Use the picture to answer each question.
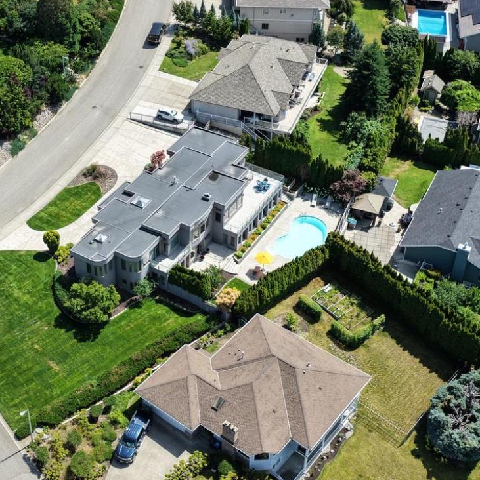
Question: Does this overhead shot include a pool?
Yes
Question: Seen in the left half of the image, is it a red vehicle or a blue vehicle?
blue vehicle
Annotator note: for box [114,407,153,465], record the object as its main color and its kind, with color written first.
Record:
blue truck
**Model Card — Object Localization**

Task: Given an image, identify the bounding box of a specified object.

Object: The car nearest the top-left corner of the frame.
[148,25,165,43]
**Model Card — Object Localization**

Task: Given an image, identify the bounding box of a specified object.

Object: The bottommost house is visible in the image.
[133,312,372,480]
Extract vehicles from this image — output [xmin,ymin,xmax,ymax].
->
[152,103,187,126]
[114,407,153,465]
[148,25,165,43]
